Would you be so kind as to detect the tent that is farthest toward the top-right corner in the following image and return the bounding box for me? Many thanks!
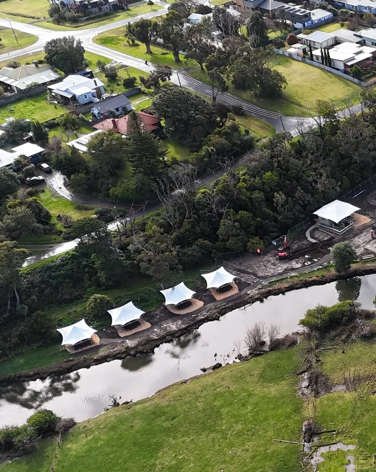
[309,200,367,235]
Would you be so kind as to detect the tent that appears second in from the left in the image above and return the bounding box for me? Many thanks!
[99,300,152,334]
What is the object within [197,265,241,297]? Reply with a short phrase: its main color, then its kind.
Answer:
white tent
